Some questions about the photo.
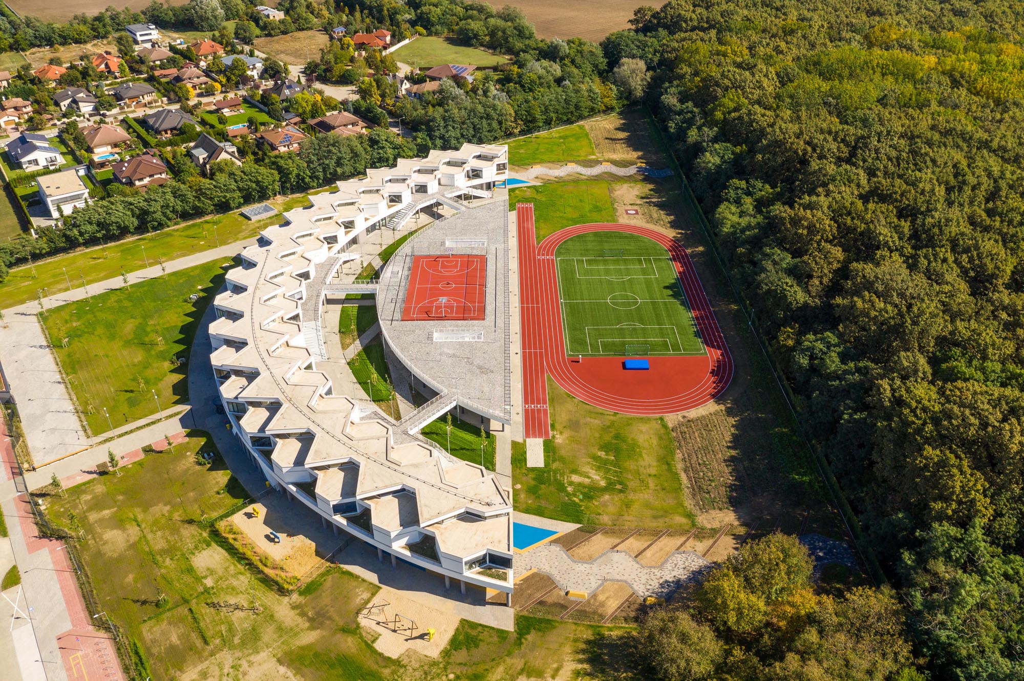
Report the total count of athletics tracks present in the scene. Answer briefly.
1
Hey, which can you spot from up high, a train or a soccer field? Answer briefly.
soccer field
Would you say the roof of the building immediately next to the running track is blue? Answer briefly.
No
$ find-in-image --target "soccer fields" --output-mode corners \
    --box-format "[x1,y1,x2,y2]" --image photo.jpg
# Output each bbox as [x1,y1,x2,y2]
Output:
[555,232,708,356]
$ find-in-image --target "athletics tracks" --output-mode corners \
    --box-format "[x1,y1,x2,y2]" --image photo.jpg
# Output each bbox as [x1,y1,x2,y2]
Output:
[537,225,734,416]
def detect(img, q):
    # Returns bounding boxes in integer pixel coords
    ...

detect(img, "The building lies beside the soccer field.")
[209,143,515,606]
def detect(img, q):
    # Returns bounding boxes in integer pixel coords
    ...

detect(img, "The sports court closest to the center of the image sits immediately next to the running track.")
[401,255,487,321]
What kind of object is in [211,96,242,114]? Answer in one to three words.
building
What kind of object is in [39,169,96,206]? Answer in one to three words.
house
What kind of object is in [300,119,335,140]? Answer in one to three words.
shed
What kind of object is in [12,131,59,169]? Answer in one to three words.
house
